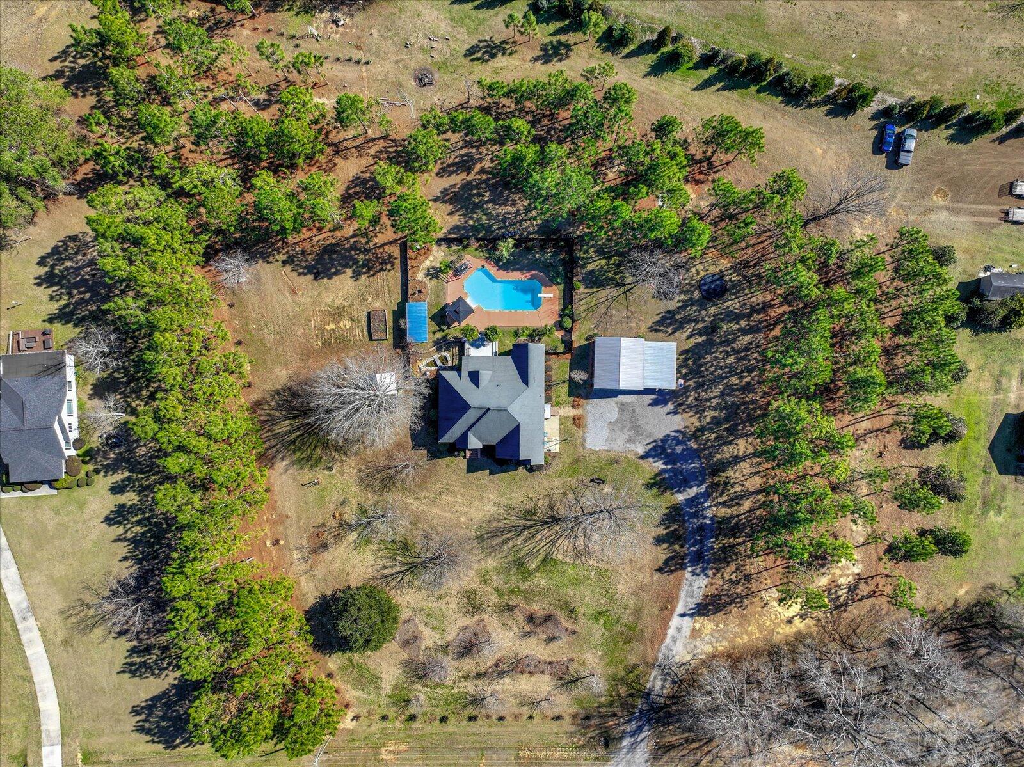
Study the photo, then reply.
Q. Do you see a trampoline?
Yes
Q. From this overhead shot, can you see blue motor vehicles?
Yes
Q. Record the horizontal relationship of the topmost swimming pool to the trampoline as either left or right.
to the left of it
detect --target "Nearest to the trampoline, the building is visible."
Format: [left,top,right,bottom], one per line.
[593,337,677,389]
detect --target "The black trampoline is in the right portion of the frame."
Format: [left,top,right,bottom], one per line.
[699,272,728,300]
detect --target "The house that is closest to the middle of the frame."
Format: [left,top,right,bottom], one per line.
[438,337,551,466]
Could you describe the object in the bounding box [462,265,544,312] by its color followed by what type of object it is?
blue swimming pool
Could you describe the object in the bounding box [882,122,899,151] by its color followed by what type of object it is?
blue car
